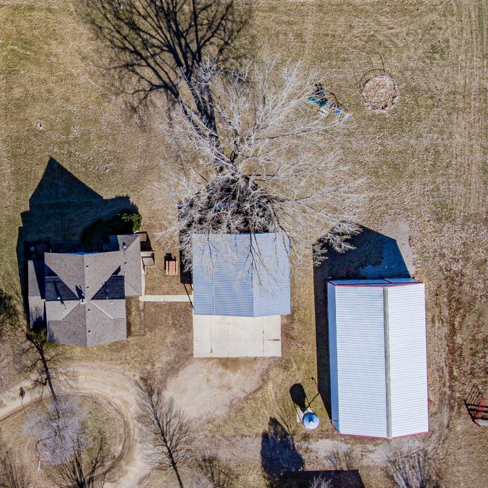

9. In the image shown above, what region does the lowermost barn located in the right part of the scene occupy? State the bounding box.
[327,277,429,440]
